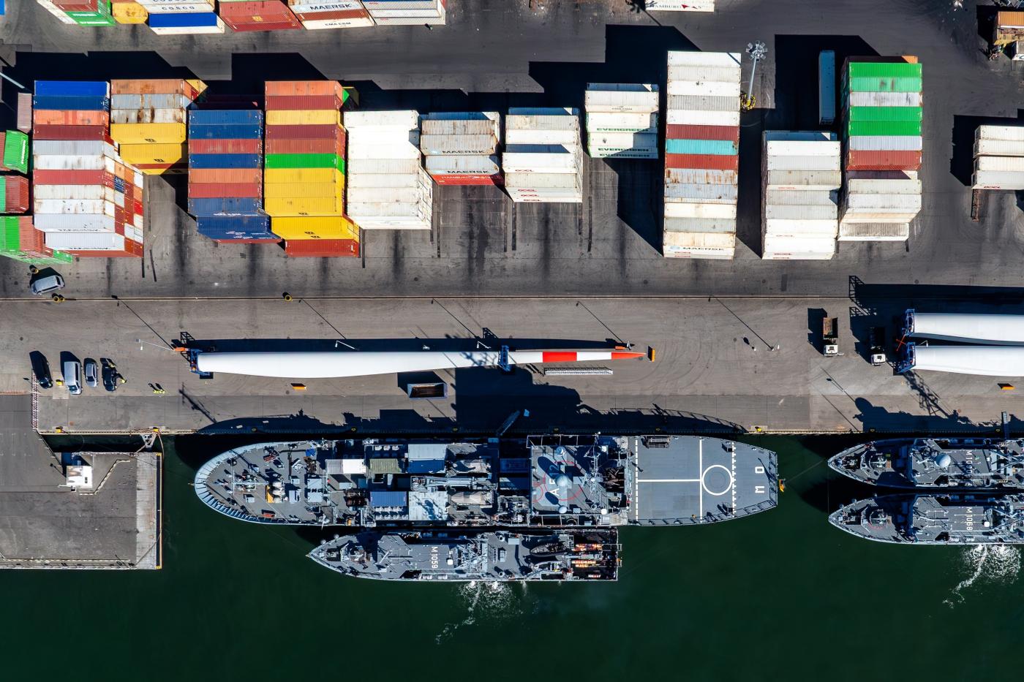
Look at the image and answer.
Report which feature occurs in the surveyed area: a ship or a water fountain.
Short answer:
ship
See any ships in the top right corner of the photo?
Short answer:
No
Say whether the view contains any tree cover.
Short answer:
No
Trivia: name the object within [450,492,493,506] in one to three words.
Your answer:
boat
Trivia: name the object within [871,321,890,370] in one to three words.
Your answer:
vehicle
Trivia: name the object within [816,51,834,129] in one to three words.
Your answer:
trailer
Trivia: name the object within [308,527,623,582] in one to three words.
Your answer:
ship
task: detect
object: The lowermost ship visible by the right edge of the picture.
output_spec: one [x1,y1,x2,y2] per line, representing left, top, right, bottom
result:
[830,490,1024,547]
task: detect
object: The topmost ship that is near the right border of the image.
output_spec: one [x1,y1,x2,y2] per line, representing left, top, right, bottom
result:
[830,432,1024,489]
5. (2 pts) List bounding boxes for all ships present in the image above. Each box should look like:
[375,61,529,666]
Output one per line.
[830,490,1024,547]
[194,430,787,527]
[308,527,623,582]
[830,432,1024,489]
